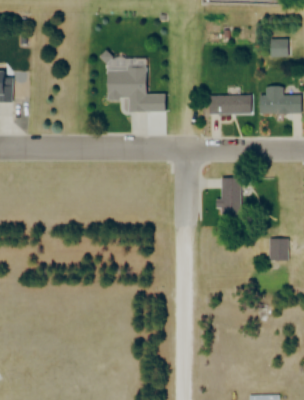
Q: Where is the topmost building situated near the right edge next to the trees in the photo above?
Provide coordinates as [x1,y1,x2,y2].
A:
[271,39,290,58]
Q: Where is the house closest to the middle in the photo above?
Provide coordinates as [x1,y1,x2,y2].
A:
[214,178,242,224]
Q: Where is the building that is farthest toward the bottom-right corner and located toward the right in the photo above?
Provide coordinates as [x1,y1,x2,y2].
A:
[271,240,290,260]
